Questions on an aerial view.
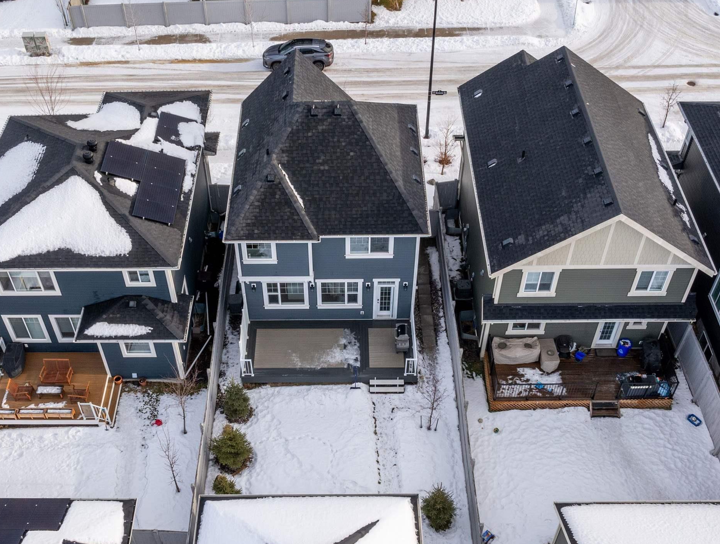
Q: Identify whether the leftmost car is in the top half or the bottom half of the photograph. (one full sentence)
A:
You can find the leftmost car in the top half.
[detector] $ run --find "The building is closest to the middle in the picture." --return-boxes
[220,46,434,321]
